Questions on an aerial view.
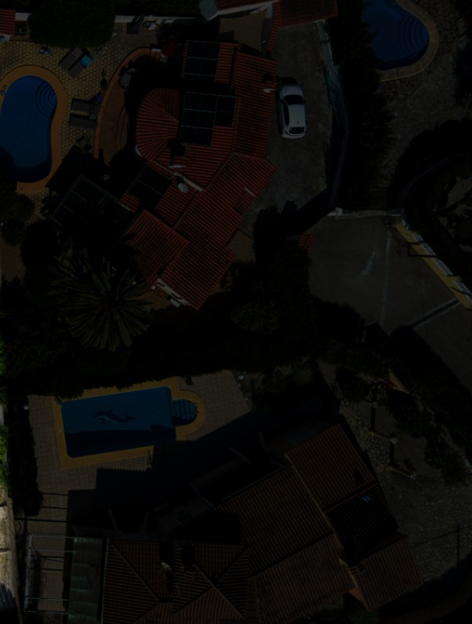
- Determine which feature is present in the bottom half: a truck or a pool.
pool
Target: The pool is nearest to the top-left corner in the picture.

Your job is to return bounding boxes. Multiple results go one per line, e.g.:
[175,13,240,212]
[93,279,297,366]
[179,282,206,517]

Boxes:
[0,65,67,193]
